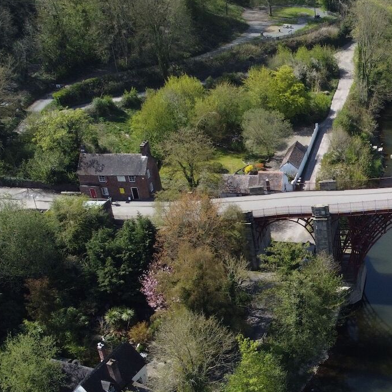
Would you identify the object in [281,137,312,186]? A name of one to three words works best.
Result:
house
